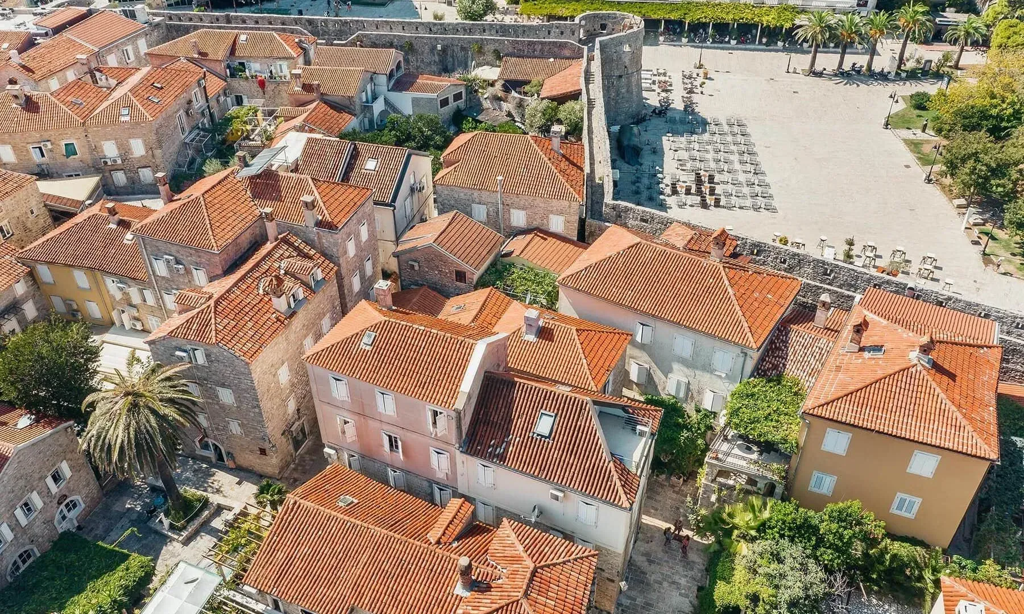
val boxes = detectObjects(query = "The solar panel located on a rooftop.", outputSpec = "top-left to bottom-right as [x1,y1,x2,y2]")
[235,144,293,193]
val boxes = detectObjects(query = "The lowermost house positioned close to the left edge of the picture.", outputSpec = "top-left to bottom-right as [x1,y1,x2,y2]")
[0,389,102,574]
